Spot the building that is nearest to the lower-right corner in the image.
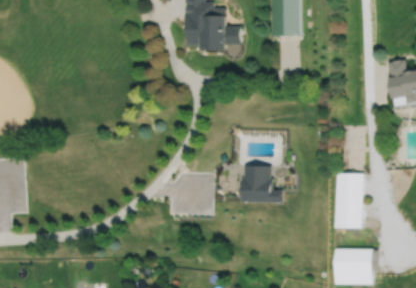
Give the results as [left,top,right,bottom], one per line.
[333,245,376,284]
